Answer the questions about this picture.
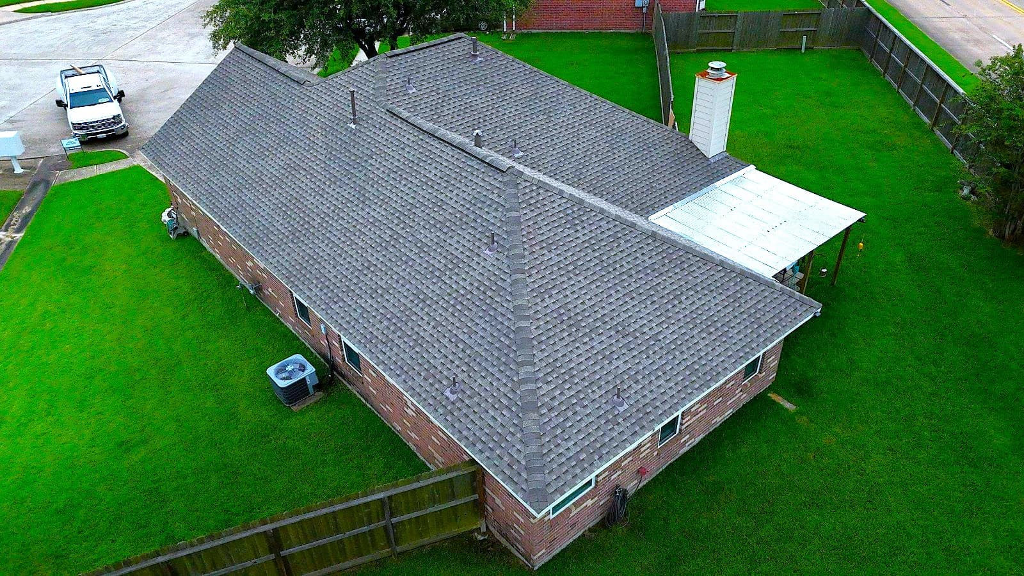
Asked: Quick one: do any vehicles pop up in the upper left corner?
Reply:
Yes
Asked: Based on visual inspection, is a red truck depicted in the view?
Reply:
No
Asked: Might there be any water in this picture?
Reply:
No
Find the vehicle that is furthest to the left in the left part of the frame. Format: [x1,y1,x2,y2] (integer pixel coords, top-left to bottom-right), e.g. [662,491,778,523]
[54,64,130,146]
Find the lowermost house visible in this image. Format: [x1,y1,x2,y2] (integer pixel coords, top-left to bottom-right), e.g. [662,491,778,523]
[139,32,823,572]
